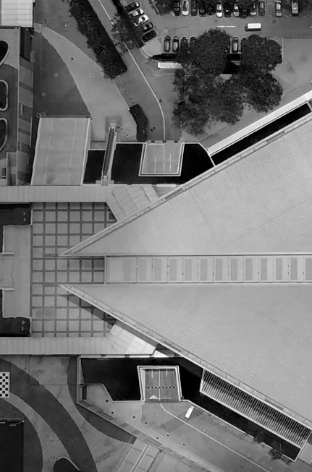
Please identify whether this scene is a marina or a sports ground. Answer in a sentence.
This image shows a sports ground.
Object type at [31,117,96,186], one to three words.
building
